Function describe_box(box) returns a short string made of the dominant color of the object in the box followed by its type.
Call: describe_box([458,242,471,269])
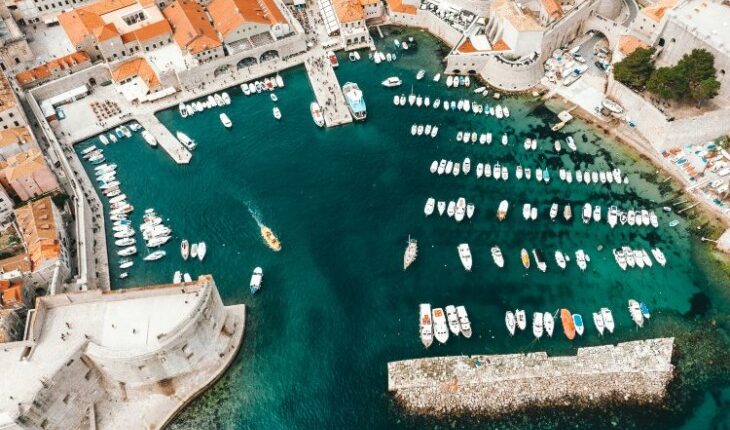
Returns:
white boat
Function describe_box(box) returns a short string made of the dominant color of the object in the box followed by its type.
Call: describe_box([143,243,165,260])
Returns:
white boat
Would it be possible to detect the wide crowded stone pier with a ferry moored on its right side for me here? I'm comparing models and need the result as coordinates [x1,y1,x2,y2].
[304,56,353,129]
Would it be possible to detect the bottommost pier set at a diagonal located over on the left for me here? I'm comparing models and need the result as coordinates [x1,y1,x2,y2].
[141,113,192,165]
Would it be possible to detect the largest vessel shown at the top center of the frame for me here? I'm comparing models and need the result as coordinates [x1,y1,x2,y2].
[344,77,368,123]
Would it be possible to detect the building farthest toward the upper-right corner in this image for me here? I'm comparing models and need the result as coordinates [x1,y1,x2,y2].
[635,0,681,43]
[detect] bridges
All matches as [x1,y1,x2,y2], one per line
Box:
[579,11,623,53]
